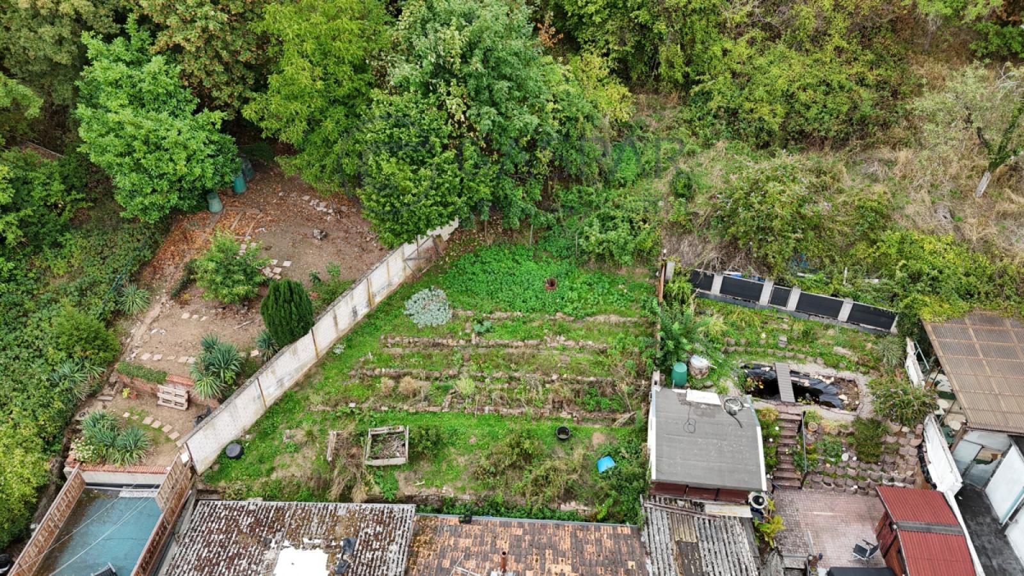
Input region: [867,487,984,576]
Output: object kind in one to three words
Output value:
shed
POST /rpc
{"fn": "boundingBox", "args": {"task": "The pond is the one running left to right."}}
[740,364,867,418]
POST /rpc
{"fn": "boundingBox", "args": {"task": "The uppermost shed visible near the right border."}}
[984,453,1024,529]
